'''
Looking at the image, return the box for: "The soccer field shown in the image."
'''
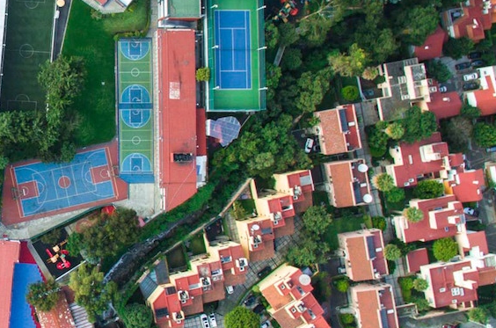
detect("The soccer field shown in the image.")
[0,0,57,112]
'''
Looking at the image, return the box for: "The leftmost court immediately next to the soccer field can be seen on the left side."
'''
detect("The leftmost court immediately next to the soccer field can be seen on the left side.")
[1,139,130,228]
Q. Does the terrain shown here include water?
No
